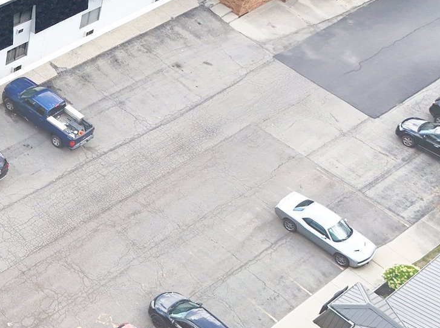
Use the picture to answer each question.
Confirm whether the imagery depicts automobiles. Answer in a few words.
Yes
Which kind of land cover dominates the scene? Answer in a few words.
paved ground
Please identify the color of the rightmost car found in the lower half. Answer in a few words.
white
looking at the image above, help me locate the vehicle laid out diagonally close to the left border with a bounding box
[3,77,100,154]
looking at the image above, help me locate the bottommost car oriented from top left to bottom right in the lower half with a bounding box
[276,189,381,274]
